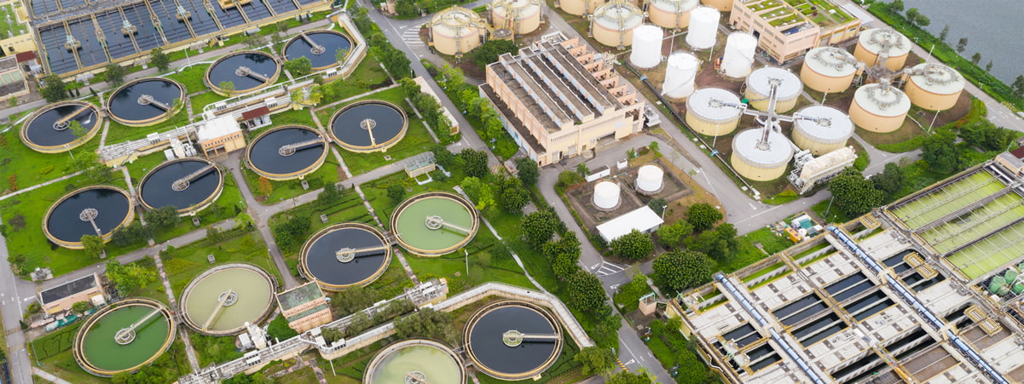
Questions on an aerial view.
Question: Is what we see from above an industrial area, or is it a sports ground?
industrial area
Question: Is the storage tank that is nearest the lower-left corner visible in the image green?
Yes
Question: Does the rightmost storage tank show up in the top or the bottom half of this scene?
top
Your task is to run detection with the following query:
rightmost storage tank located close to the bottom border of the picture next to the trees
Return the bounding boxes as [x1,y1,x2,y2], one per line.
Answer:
[462,297,564,381]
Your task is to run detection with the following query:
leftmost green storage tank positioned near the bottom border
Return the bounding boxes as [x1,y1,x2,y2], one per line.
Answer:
[73,296,178,378]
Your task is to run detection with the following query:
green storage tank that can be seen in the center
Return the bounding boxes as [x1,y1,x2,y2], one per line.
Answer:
[390,189,479,256]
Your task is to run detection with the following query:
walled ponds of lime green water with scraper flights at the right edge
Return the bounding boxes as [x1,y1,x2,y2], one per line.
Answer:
[881,155,1024,285]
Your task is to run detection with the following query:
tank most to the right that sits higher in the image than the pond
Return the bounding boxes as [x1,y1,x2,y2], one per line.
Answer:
[899,62,965,111]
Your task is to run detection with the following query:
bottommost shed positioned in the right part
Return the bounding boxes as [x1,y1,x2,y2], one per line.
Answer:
[639,292,658,315]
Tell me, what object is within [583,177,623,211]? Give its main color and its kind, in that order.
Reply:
white storage tank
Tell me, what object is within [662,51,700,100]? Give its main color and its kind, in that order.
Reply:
white storage tank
